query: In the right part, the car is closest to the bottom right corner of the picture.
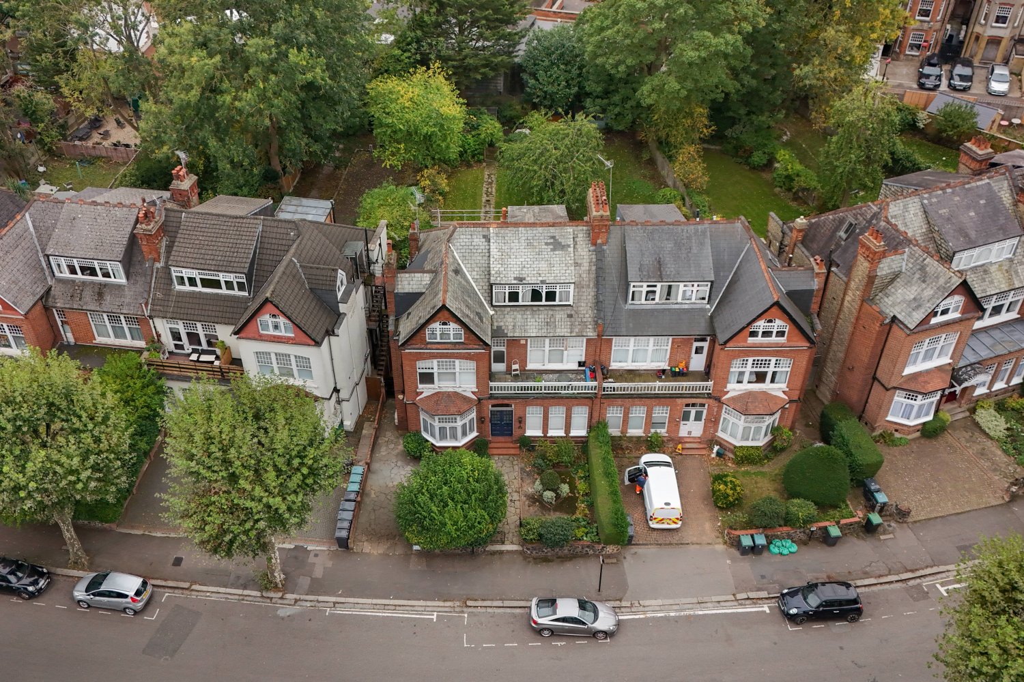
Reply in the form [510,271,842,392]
[783,581,863,626]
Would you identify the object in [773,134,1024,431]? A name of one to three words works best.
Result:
house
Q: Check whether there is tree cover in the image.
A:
Yes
